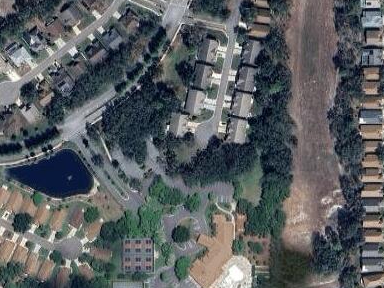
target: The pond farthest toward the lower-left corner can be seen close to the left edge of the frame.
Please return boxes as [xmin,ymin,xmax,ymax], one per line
[6,149,95,197]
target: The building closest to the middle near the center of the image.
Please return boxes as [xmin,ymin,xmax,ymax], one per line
[169,113,189,137]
